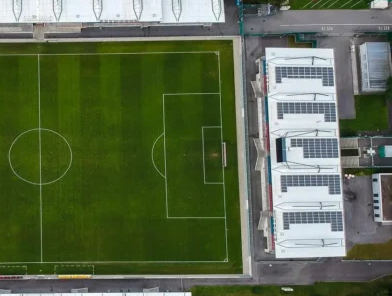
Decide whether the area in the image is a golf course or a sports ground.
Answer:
sports ground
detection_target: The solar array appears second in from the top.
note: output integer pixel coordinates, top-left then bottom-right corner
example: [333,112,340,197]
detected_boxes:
[278,103,336,122]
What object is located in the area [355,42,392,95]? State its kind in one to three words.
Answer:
building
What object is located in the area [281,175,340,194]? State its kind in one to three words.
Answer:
solar array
